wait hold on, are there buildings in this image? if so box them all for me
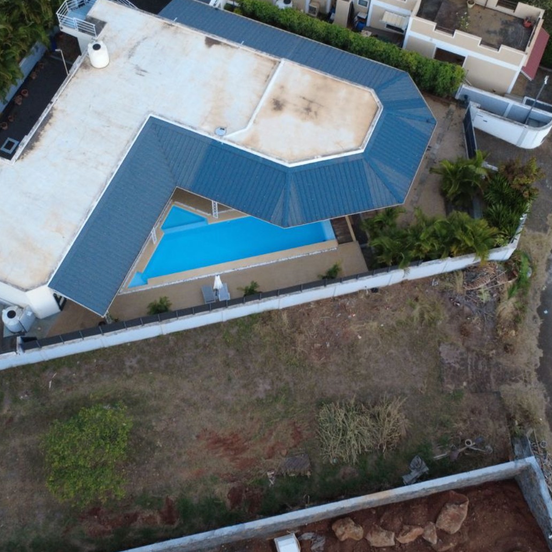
[274,0,550,93]
[0,0,436,324]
